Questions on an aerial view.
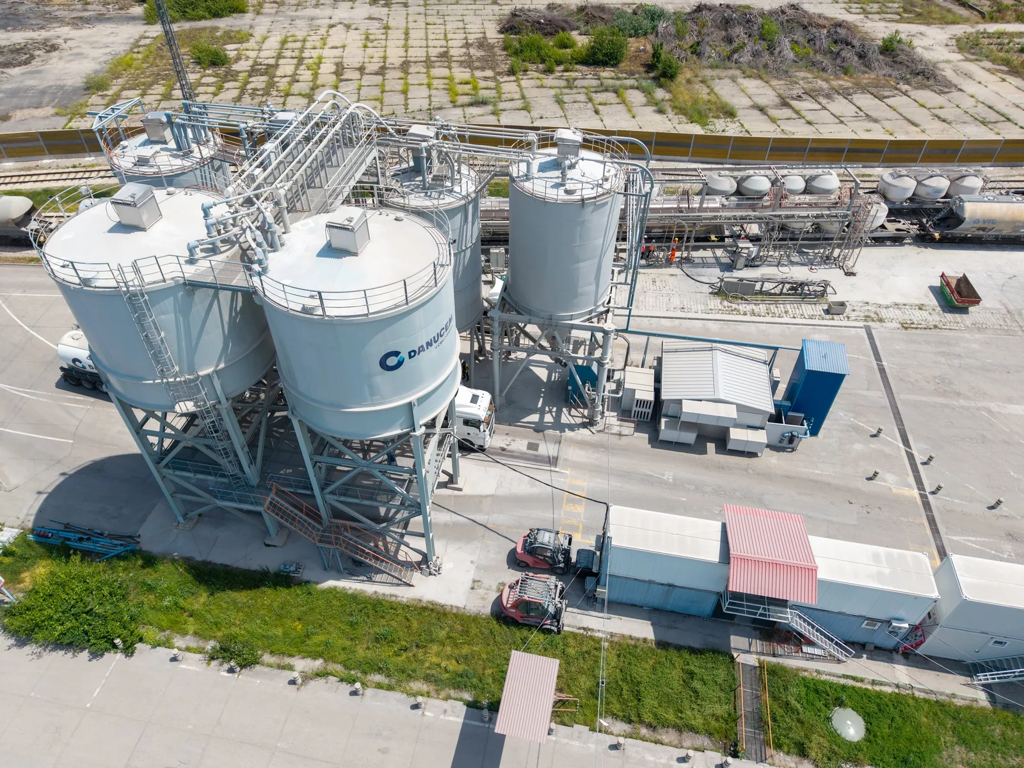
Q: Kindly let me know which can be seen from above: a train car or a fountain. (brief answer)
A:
train car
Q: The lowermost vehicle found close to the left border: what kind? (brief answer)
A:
truck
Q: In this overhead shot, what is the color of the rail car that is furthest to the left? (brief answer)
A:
white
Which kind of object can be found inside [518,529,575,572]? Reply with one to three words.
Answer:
work vehicle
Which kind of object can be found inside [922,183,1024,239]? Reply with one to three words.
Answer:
rail car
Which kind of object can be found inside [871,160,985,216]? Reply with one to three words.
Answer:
rail car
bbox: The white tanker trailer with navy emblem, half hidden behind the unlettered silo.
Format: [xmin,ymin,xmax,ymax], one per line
[51,316,99,383]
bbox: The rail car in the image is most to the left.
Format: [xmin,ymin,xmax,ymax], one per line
[0,183,64,237]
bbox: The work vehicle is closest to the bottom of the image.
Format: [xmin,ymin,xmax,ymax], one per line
[503,576,585,631]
